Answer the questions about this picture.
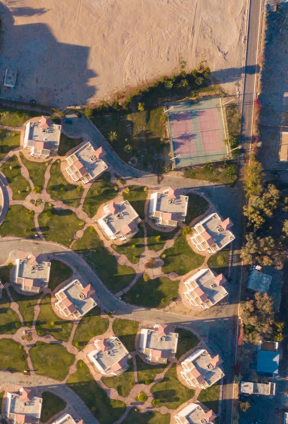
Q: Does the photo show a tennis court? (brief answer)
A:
Yes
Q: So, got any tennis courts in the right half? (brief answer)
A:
Yes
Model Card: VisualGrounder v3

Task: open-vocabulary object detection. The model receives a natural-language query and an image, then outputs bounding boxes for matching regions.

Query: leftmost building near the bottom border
[4,390,43,424]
